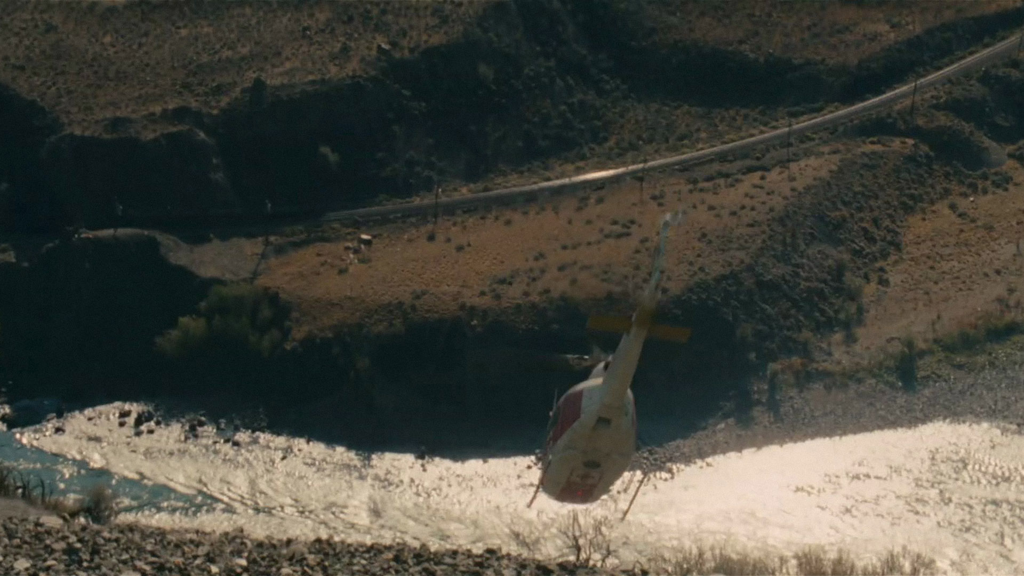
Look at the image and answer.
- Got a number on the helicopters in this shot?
1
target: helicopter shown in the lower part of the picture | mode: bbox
[341,196,861,518]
